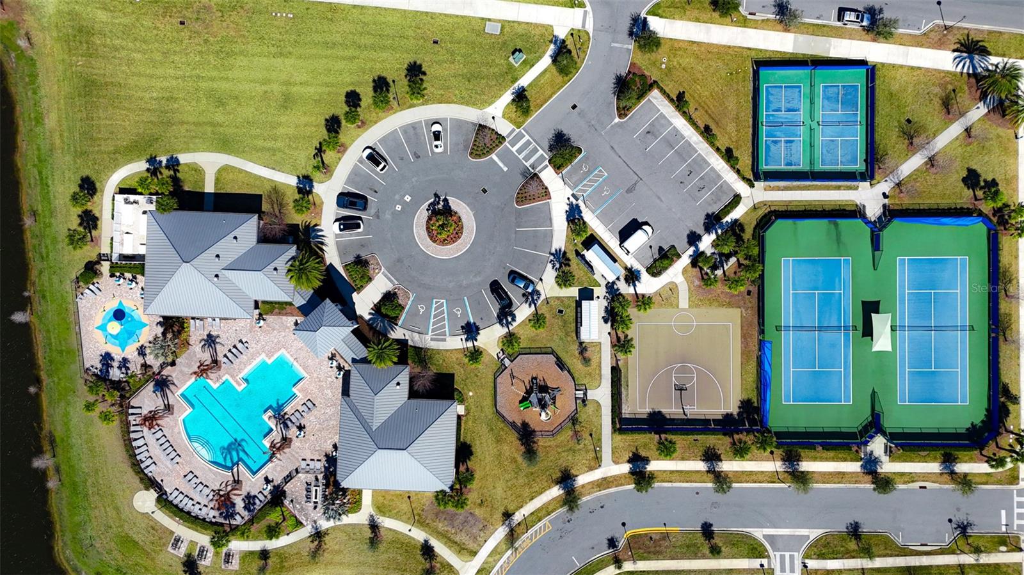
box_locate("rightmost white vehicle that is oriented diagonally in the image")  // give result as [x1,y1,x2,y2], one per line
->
[618,226,652,257]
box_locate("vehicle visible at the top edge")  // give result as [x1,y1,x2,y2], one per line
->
[840,11,871,29]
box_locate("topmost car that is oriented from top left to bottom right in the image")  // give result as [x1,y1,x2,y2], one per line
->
[362,146,390,174]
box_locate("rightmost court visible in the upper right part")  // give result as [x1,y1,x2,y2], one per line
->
[811,69,869,178]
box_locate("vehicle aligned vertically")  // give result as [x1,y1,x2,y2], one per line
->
[430,123,445,153]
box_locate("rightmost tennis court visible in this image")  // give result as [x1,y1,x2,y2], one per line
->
[878,219,990,441]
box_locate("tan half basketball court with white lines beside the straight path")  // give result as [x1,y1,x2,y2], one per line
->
[628,308,741,414]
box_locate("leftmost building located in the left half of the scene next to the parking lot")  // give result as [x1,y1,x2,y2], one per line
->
[143,210,299,319]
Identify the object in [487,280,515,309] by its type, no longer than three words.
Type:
car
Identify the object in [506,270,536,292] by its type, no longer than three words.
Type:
car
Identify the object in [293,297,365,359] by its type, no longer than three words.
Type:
building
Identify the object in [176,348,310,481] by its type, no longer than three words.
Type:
swimming pool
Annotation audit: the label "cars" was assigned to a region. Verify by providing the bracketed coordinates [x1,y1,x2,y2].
[430,123,445,153]
[336,195,369,211]
[506,270,536,292]
[335,219,364,233]
[487,280,515,309]
[840,11,871,29]
[362,146,390,174]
